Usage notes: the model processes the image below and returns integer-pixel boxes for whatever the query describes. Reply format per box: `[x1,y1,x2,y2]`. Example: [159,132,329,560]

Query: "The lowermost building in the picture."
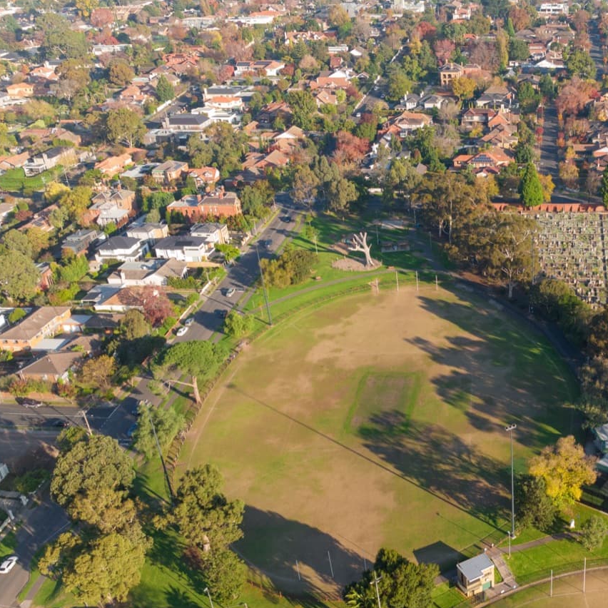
[447,539,500,596]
